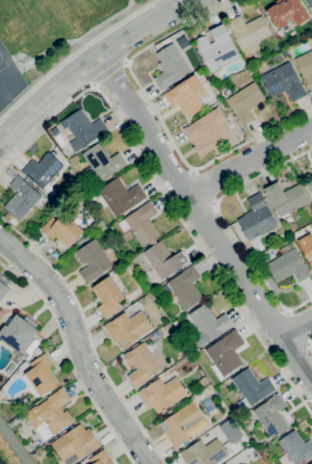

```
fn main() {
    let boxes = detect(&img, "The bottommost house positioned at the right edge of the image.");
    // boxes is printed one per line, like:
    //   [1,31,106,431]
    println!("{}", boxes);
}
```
[280,430,312,464]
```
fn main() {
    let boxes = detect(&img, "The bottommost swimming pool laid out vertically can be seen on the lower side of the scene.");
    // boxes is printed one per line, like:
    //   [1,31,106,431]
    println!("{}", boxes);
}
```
[0,346,12,370]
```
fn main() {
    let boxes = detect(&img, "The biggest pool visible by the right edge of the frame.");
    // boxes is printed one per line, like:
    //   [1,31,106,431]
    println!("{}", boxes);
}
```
[294,42,311,56]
